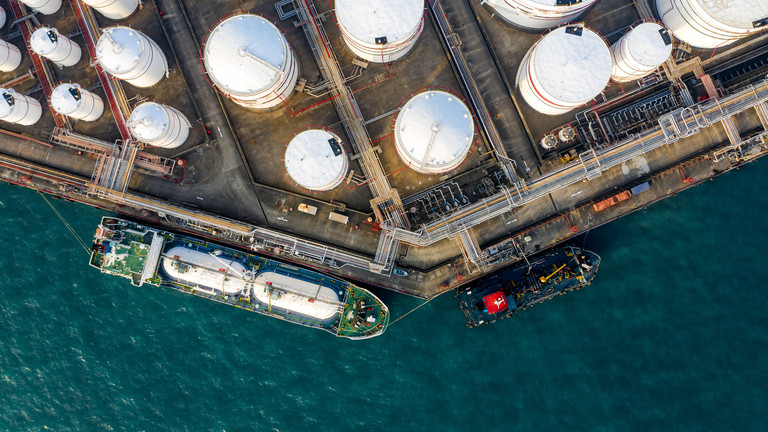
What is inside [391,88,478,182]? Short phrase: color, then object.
white storage tank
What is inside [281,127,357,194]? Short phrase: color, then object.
white storage tank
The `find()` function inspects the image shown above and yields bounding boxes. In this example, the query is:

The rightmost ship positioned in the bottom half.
[456,244,602,329]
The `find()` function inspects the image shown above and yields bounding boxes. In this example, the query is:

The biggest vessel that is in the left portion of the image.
[89,216,389,342]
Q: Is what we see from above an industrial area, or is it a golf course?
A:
industrial area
